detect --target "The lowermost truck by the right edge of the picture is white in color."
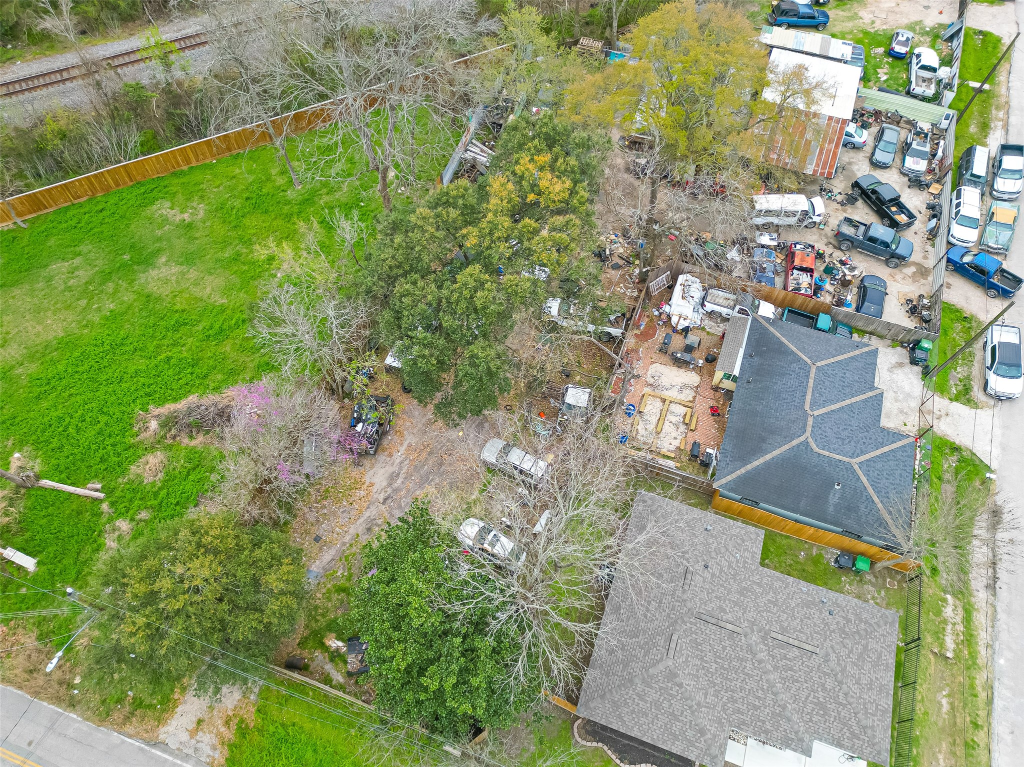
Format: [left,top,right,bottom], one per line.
[983,323,1024,398]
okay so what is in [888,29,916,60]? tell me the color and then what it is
white car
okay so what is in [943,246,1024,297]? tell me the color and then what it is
blue truck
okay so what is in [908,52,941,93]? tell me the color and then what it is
white truck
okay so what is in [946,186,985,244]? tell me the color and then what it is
white car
